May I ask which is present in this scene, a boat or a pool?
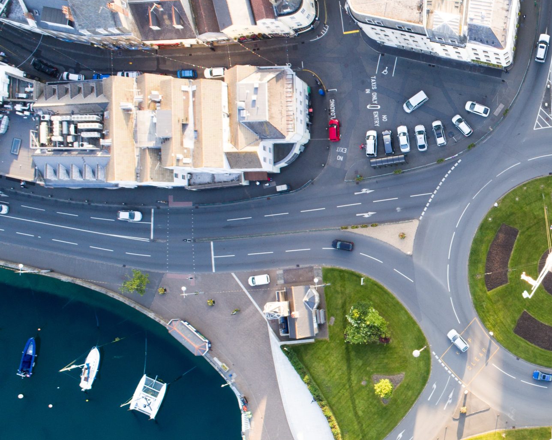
boat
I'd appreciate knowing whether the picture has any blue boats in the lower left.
Yes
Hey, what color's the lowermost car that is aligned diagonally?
white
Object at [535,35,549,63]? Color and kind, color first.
white vehicle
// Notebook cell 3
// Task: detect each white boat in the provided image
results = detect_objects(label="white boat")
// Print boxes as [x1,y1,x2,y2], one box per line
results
[62,348,99,391]
[122,375,167,420]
